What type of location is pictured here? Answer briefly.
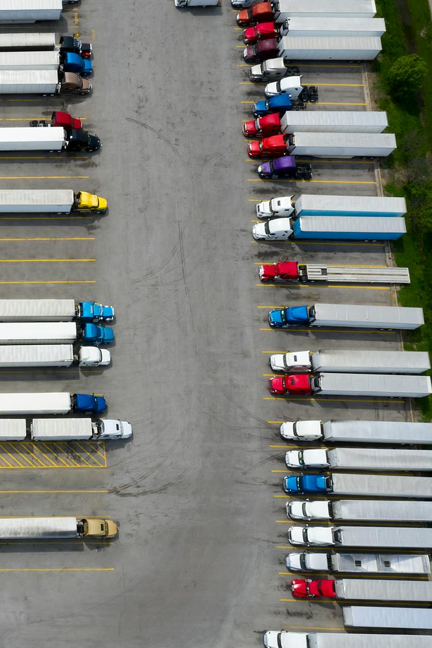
parking lot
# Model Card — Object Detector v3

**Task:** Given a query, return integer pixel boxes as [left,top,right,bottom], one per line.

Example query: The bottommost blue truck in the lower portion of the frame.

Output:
[281,472,329,495]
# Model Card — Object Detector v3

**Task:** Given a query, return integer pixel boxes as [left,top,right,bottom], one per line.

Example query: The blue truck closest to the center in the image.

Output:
[267,306,317,328]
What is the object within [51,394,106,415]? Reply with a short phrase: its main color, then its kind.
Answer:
blue truck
